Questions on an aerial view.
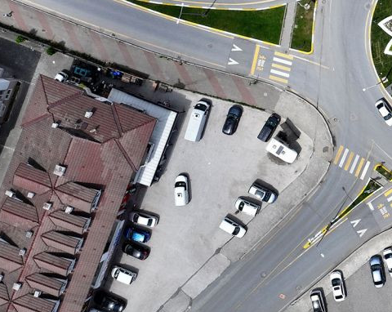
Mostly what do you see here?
paved ground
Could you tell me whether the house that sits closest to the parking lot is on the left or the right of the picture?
left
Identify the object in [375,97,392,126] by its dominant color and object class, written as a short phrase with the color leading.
white car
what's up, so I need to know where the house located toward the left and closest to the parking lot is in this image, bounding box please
[0,73,157,312]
